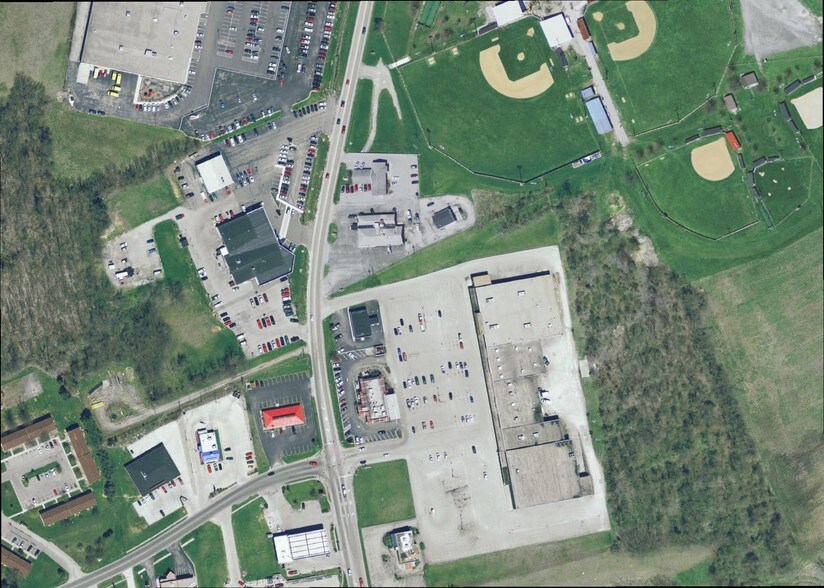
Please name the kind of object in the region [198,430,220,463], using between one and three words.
building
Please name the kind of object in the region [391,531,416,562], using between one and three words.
building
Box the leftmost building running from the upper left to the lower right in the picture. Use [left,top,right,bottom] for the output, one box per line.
[0,546,31,578]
